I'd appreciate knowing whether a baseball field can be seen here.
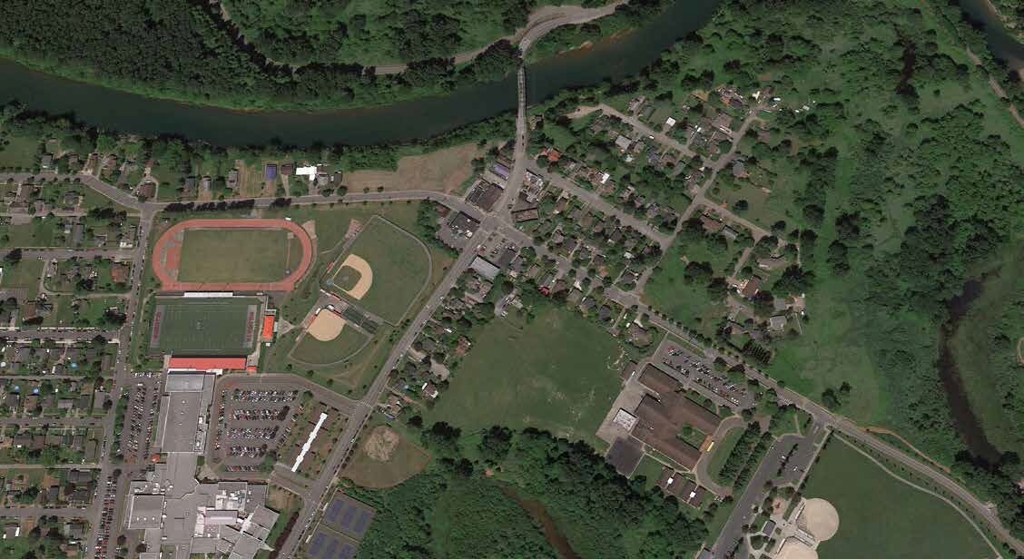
Yes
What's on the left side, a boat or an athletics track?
athletics track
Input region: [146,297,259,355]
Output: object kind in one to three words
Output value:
sports field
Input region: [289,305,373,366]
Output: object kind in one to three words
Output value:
baseball field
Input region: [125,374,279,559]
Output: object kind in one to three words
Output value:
building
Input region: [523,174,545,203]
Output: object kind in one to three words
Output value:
building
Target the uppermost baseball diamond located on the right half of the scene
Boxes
[797,499,839,541]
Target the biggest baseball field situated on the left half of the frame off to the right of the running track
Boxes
[319,216,432,327]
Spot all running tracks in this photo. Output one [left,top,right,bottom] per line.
[152,217,312,290]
